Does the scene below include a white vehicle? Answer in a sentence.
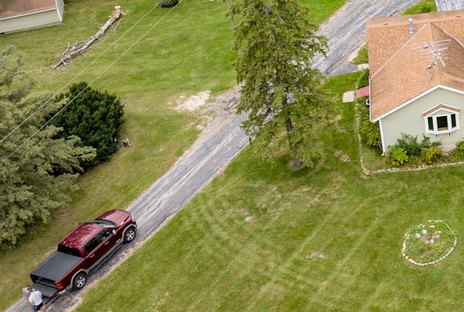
No, this view has no white vehicle in it.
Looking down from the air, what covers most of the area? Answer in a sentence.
The largest share of the image is taken up by grass.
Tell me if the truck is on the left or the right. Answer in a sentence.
The truck appears in the left half of the scene.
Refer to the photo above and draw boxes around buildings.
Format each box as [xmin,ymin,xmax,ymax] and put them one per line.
[365,10,464,157]
[0,0,64,32]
